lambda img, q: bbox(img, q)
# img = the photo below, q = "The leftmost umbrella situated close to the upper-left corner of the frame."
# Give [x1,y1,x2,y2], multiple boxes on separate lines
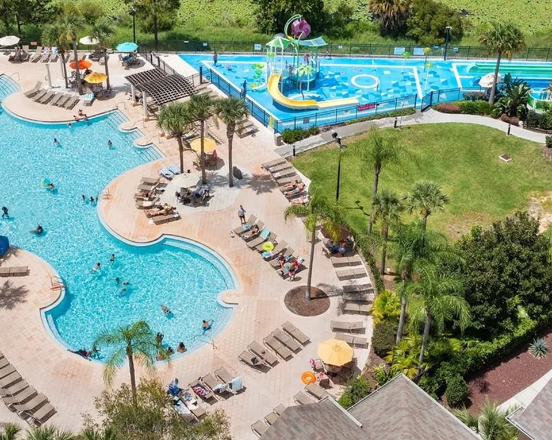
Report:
[0,37,19,65]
